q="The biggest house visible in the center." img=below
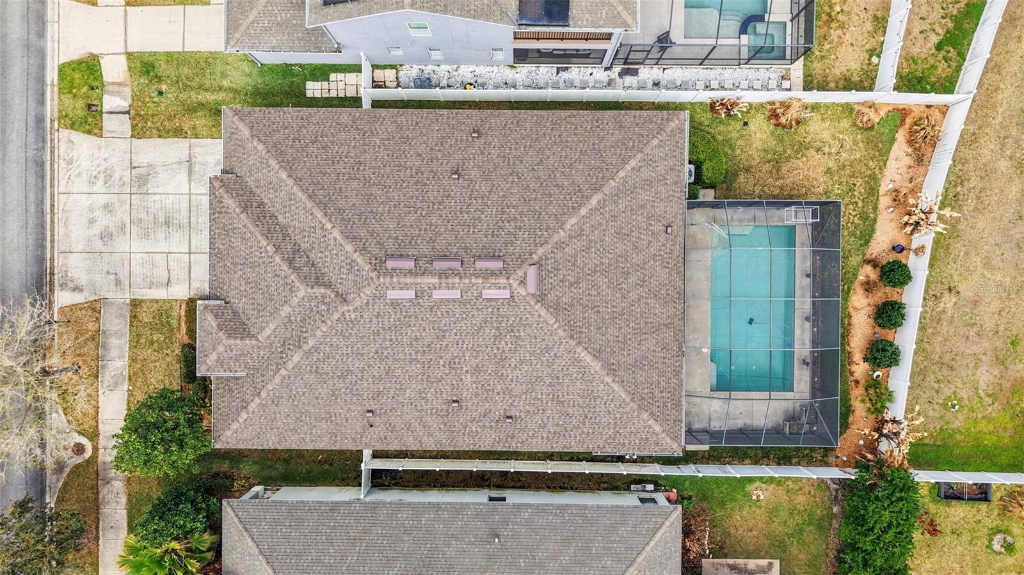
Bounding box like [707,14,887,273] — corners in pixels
[195,105,690,457]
